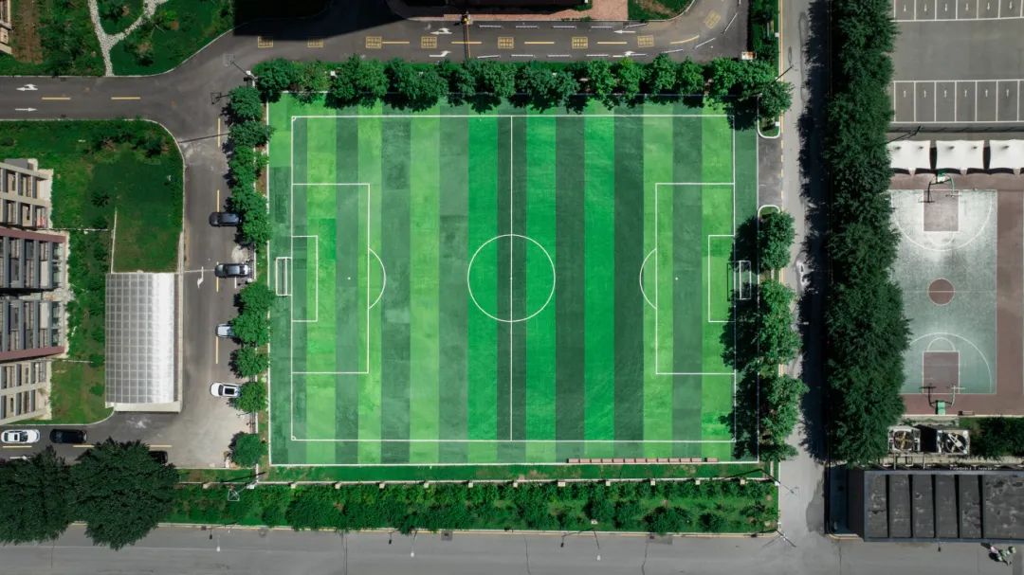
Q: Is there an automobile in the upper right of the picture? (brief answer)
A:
No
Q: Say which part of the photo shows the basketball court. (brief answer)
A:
right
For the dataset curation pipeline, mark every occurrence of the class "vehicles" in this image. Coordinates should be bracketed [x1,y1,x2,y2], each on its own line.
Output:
[50,429,88,446]
[209,210,244,227]
[216,262,252,279]
[137,449,173,464]
[217,323,234,339]
[210,381,245,398]
[2,429,40,446]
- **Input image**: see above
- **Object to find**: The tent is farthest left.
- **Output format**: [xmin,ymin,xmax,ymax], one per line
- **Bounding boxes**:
[887,140,930,172]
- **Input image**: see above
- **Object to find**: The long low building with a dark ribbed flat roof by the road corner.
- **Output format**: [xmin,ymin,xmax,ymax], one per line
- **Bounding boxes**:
[849,461,1024,552]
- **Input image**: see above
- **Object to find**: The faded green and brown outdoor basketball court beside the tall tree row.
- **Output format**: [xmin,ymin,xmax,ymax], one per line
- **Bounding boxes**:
[878,170,1024,415]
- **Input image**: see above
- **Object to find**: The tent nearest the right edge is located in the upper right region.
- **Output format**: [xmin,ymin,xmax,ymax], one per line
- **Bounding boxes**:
[977,140,1024,172]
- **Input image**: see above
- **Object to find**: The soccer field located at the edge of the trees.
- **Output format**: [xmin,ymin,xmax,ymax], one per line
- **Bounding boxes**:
[270,94,758,465]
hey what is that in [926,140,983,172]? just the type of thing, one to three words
tent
